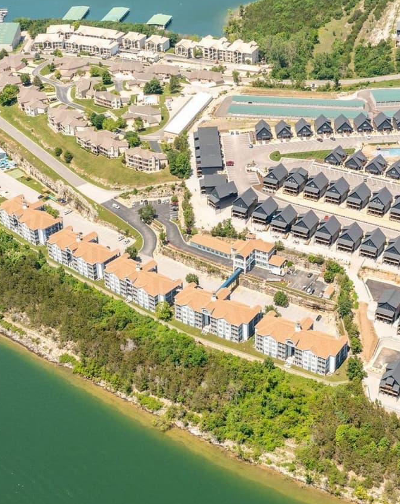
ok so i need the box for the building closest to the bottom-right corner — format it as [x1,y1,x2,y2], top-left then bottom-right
[376,360,400,403]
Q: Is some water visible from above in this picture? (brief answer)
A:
Yes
